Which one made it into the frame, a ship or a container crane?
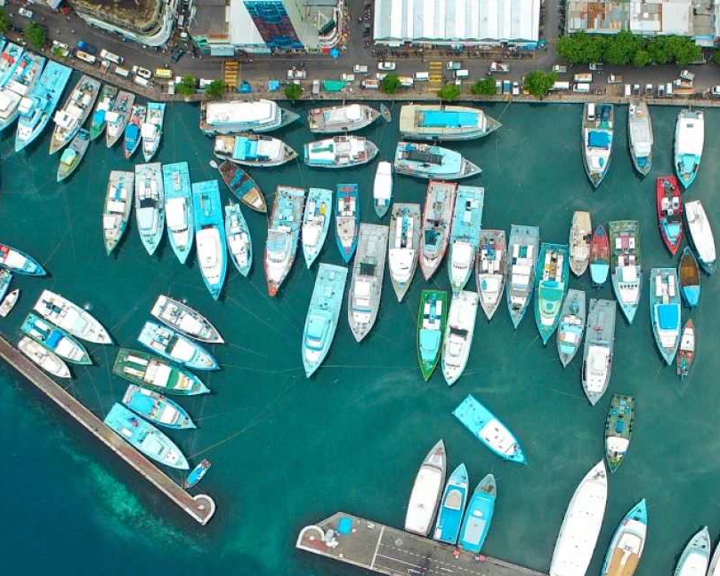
ship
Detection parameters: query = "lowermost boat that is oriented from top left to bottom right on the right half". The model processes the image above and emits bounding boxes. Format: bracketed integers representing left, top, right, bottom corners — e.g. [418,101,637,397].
[453,395,526,465]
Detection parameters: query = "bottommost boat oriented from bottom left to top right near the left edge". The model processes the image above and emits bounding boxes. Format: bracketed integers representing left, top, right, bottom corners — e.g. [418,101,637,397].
[0,290,19,318]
